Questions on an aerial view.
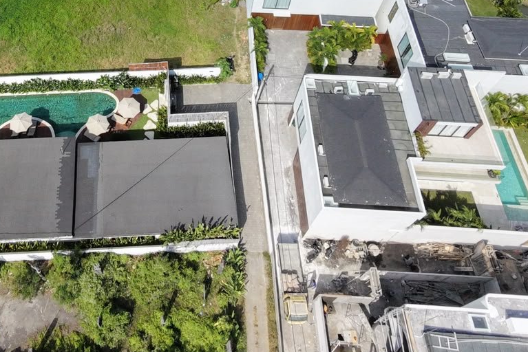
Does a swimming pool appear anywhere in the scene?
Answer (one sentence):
Yes, the image includes a swimming pool.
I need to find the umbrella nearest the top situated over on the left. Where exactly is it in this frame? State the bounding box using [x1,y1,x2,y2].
[116,97,140,118]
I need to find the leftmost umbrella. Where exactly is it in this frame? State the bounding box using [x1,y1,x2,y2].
[9,113,32,134]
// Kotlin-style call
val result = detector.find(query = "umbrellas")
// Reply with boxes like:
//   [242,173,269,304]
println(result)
[9,113,32,134]
[86,115,110,137]
[116,97,140,118]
